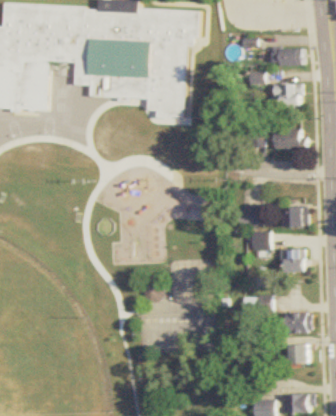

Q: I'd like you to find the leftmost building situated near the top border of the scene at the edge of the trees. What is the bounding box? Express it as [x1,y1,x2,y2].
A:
[0,0,206,118]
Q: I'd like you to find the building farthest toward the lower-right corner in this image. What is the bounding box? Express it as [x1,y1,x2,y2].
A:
[291,394,316,416]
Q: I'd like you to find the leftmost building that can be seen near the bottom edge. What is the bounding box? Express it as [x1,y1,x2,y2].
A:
[254,400,279,416]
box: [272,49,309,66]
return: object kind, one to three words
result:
house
